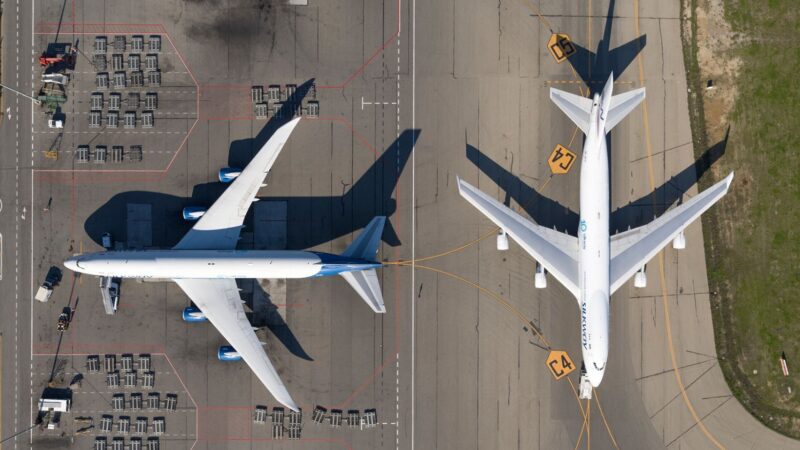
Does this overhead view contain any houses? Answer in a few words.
No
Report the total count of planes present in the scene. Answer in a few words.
2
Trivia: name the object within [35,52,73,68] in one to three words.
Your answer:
vehicle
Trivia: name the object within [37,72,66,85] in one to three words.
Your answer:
vehicle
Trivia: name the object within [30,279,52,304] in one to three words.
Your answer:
truck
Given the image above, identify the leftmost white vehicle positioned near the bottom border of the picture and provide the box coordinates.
[35,400,65,431]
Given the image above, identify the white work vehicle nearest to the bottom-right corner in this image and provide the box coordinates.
[579,377,592,398]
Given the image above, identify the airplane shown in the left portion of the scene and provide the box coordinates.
[64,117,387,411]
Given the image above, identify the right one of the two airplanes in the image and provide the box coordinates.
[459,73,736,387]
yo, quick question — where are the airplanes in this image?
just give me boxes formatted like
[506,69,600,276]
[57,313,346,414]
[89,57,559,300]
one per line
[64,117,387,411]
[459,73,736,387]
